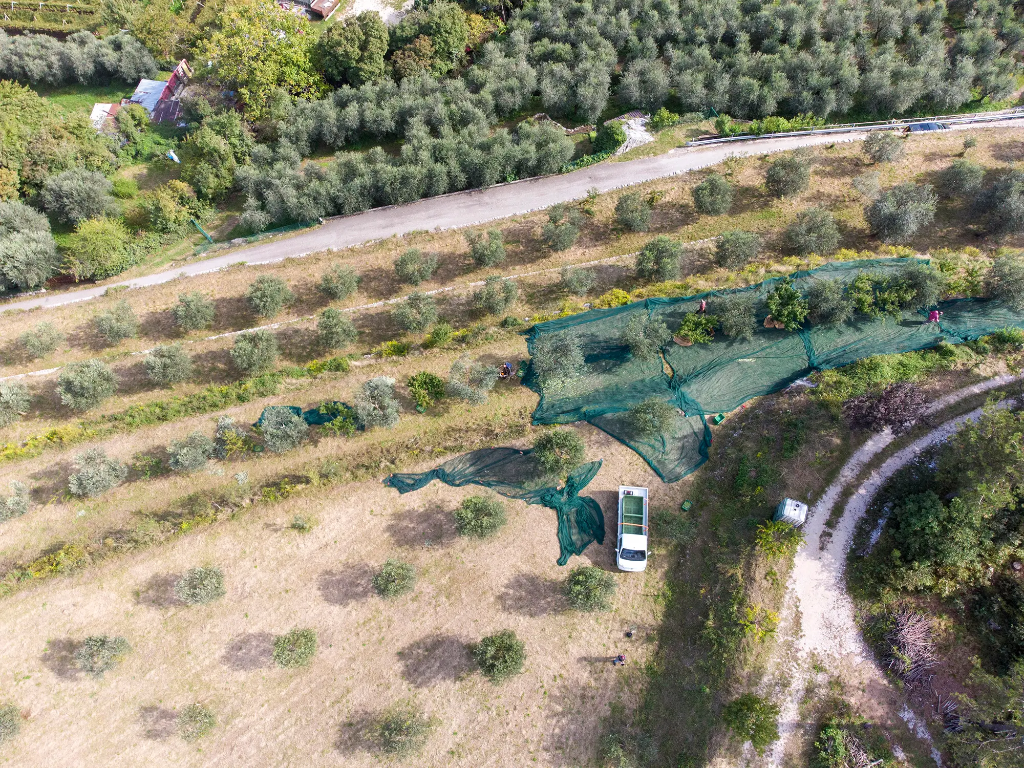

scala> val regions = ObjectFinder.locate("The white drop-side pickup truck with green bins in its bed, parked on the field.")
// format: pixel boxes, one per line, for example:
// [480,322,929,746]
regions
[613,484,654,573]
